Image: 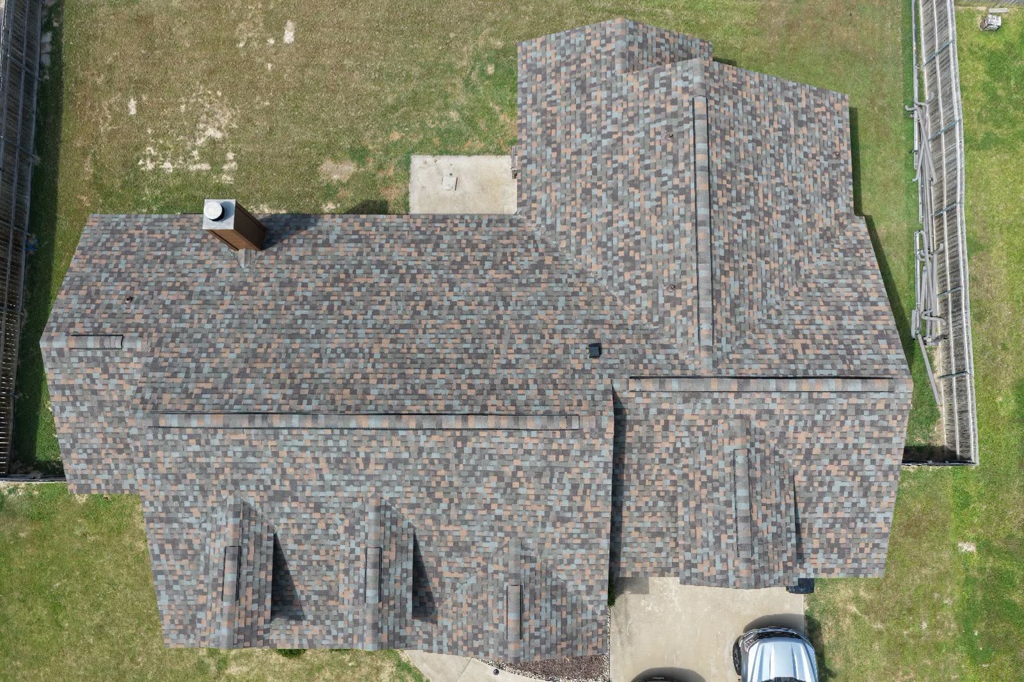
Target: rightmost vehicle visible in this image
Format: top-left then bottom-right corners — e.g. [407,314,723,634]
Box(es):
[733,625,817,682]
